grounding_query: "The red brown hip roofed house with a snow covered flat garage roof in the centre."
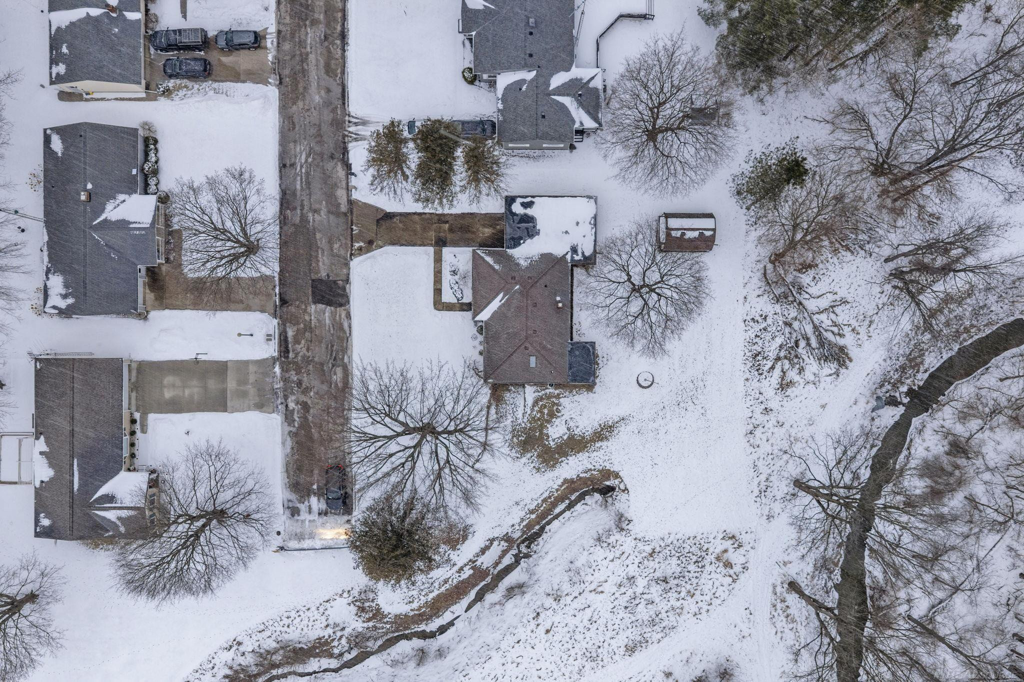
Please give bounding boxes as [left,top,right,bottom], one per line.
[472,195,596,385]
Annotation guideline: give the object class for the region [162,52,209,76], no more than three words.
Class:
car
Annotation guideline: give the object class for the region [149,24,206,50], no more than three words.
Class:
truck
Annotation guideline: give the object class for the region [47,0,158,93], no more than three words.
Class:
house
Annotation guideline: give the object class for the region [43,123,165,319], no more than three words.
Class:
house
